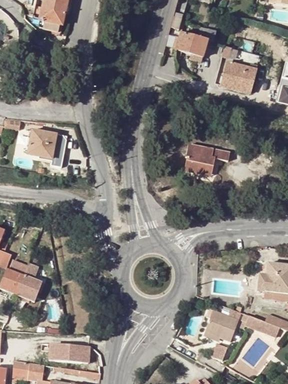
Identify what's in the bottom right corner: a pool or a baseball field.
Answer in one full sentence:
The feature located in the bottom right corner is a pool.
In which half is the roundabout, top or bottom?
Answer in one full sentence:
The roundabout is in the bottom half of the image.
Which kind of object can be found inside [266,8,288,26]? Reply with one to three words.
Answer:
swimming pool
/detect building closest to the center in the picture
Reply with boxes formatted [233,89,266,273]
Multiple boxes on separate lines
[184,144,230,176]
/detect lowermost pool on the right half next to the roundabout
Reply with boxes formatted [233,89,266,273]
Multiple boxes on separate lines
[184,315,204,337]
